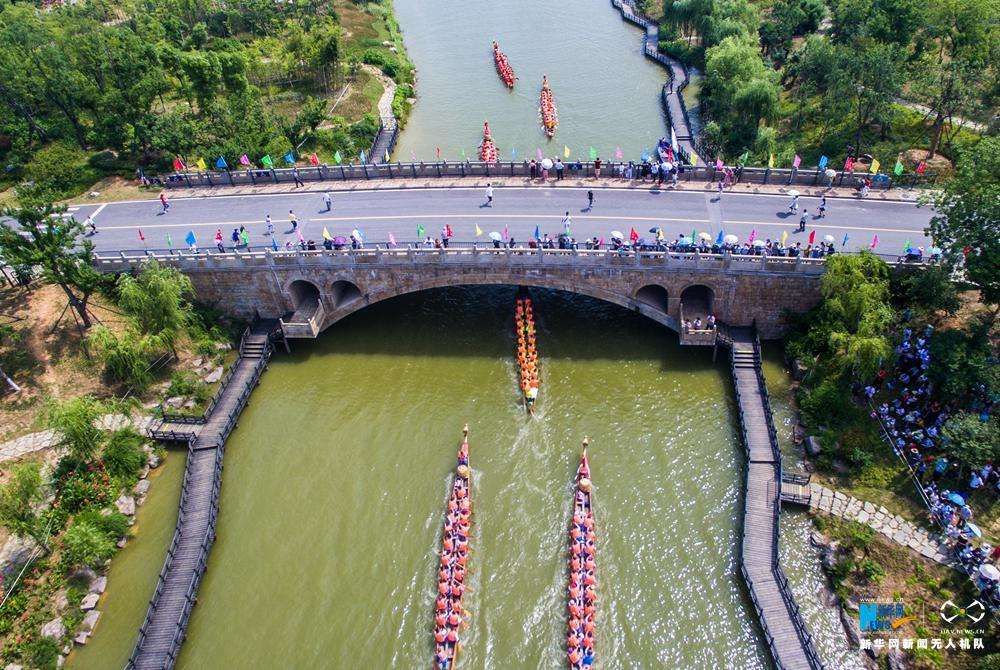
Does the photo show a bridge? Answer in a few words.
Yes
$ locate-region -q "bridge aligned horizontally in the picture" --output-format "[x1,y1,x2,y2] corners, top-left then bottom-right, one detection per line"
[40,164,997,338]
